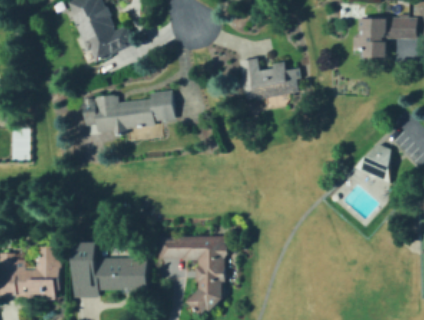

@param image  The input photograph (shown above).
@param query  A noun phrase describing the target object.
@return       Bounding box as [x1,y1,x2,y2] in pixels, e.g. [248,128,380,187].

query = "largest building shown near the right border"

[354,16,418,59]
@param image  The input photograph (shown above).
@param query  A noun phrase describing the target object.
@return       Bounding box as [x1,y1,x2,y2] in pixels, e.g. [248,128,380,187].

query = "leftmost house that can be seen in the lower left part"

[0,244,55,300]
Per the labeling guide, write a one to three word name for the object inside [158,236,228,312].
house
